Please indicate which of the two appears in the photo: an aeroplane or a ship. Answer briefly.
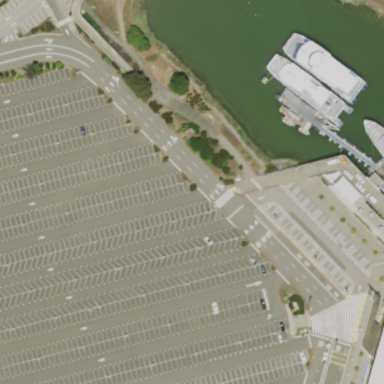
ship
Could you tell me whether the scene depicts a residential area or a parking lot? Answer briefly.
parking lot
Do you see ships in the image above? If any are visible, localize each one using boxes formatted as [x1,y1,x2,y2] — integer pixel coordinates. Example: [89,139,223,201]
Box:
[364,119,384,158]
[283,32,366,102]
[266,54,354,130]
